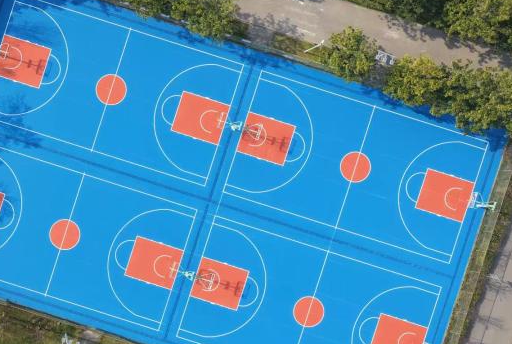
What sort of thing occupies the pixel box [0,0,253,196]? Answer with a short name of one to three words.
basketball court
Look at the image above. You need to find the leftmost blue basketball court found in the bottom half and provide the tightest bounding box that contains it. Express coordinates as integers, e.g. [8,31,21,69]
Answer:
[0,134,206,344]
